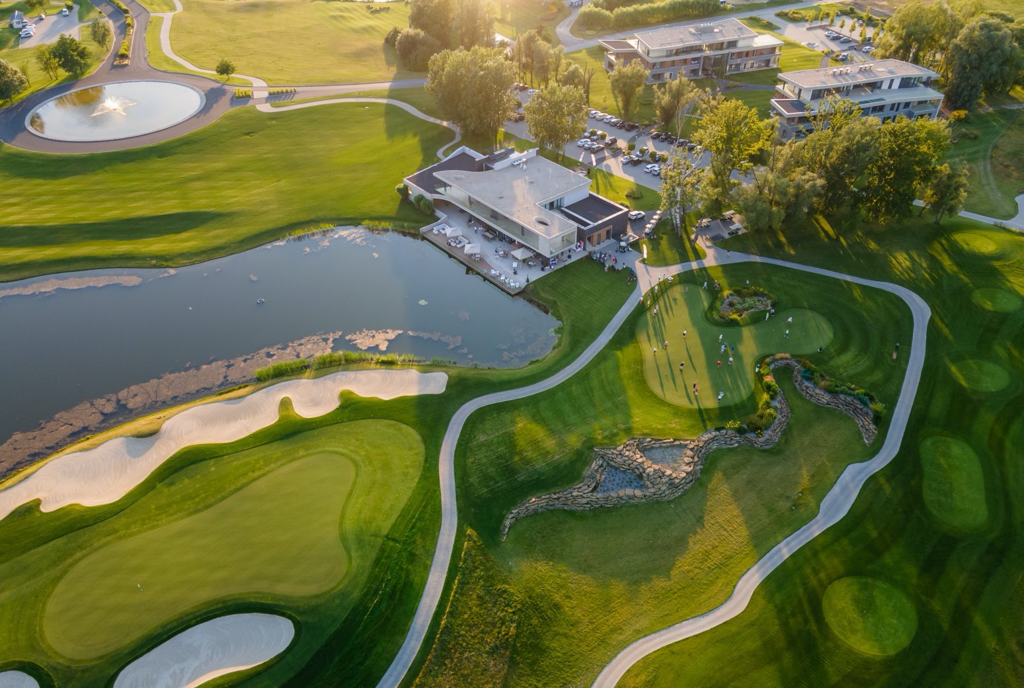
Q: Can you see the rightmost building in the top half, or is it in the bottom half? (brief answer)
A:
top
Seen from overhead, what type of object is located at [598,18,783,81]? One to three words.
building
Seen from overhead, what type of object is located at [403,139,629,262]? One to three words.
building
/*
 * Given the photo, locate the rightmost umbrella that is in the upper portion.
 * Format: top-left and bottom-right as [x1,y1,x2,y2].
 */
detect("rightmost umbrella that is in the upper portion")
[510,248,533,263]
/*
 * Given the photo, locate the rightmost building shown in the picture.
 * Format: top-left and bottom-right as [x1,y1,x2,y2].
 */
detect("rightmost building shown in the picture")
[770,59,944,135]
